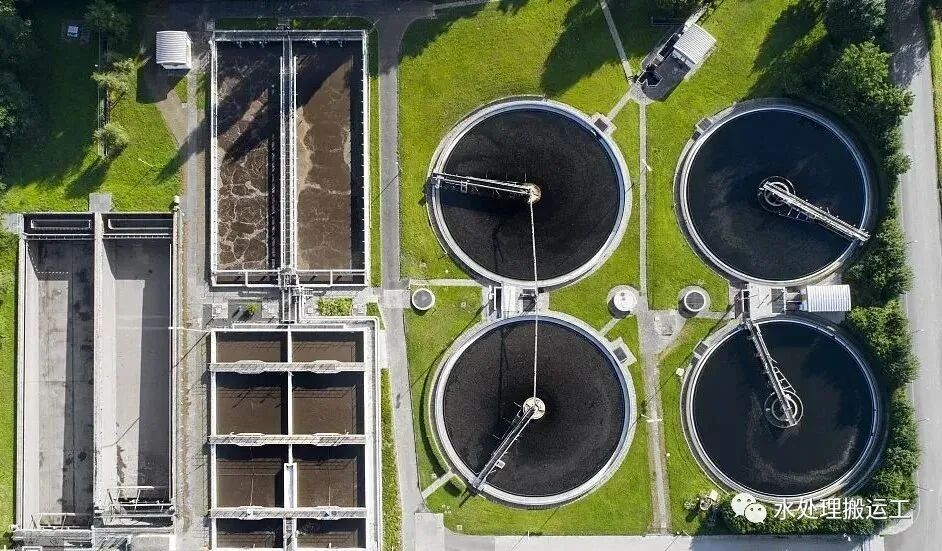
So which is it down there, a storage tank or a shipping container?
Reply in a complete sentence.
There is a storage tank in the scene.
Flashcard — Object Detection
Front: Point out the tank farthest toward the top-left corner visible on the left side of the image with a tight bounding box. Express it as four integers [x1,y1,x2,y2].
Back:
[208,29,369,286]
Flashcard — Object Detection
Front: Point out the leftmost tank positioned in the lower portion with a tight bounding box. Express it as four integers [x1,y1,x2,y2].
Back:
[205,324,377,551]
